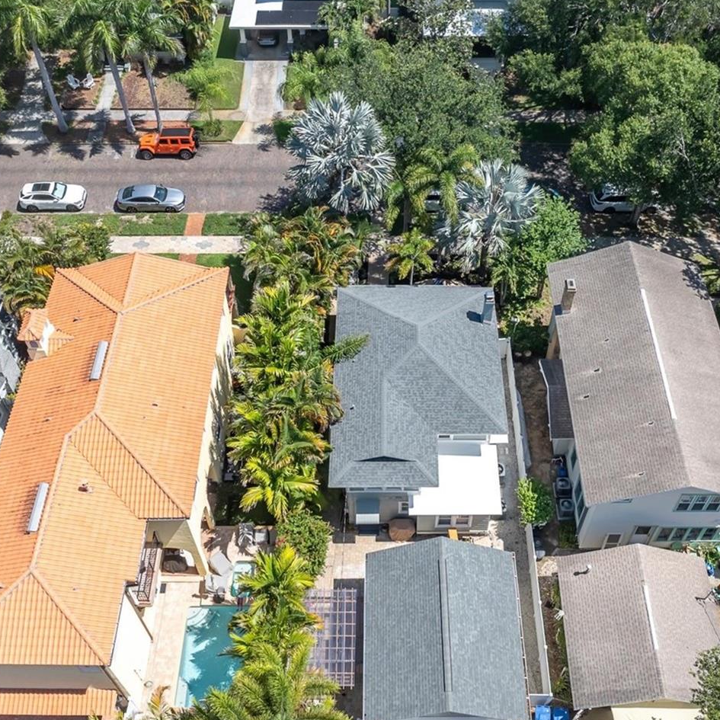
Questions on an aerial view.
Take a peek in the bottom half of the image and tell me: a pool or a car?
pool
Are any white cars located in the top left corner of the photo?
Yes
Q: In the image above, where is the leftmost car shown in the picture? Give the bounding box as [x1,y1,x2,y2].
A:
[13,179,88,213]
